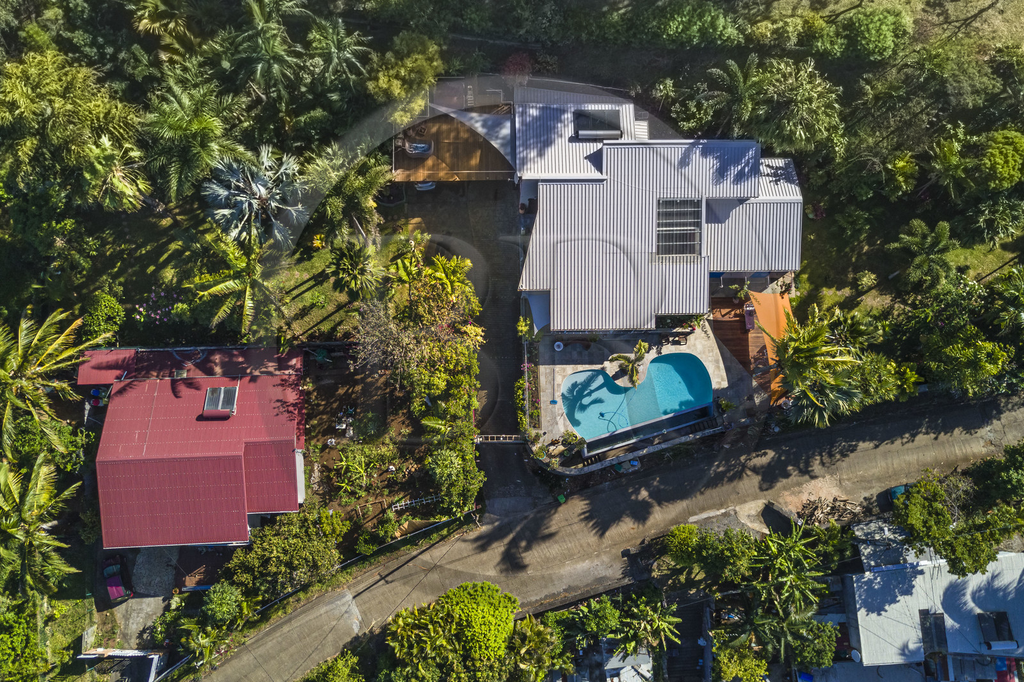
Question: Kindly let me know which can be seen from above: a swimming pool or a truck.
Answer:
swimming pool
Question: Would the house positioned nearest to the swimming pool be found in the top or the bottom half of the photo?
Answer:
top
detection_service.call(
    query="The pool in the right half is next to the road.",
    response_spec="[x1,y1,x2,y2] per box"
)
[560,352,714,457]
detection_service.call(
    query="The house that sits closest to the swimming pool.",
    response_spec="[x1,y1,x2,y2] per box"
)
[515,87,803,331]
